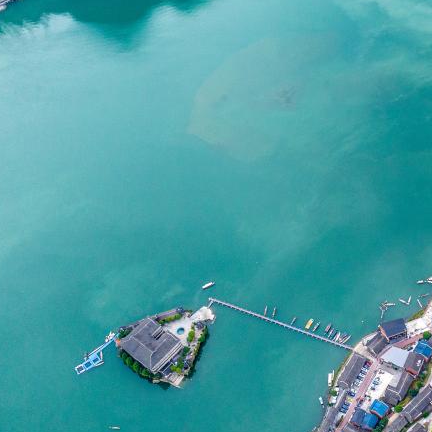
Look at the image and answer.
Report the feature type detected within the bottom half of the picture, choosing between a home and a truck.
home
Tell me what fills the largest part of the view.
water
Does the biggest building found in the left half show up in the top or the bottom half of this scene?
bottom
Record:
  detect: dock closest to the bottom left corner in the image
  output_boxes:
[74,334,117,374]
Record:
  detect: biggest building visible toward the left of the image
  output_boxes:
[121,318,185,375]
